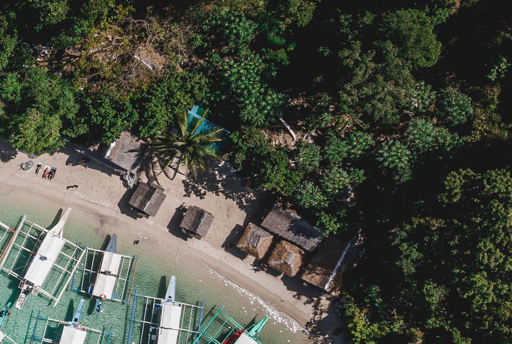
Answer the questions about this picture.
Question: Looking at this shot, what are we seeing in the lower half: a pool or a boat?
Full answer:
You can see a boat in the lower half.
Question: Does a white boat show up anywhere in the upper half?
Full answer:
No, there is no white boat in the upper half.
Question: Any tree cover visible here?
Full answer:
Yes, the picture does contain tree cover.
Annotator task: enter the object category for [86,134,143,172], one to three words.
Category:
shed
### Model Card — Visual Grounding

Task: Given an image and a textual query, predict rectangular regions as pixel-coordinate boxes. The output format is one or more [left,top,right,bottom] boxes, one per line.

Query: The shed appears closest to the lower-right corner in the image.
[295,233,365,298]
